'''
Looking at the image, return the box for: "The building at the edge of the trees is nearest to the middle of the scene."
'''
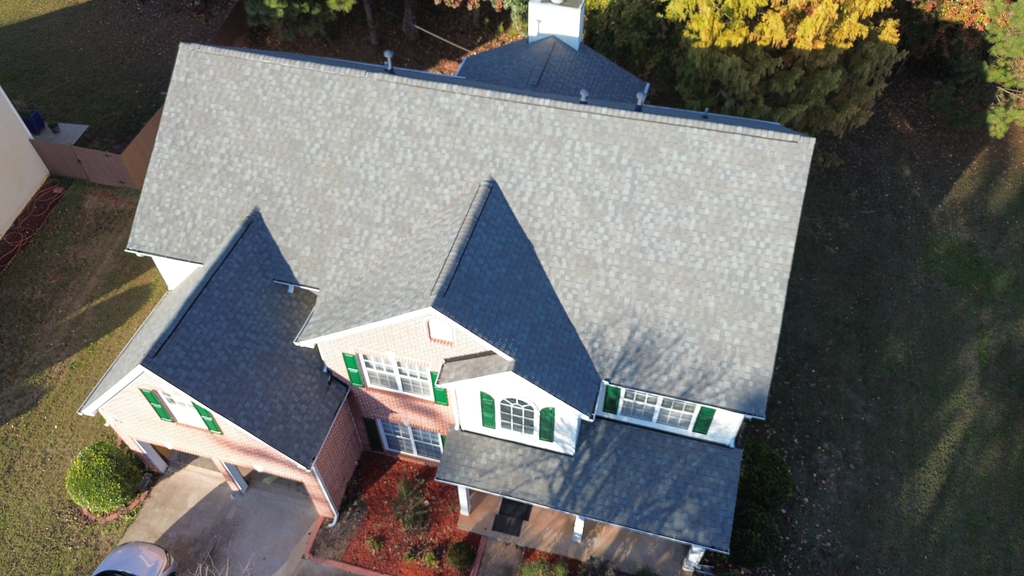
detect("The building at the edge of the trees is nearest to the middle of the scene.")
[78,0,817,576]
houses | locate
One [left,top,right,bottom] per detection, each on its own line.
[0,91,49,244]
[78,0,817,576]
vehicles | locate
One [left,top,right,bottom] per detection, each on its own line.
[93,541,176,576]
